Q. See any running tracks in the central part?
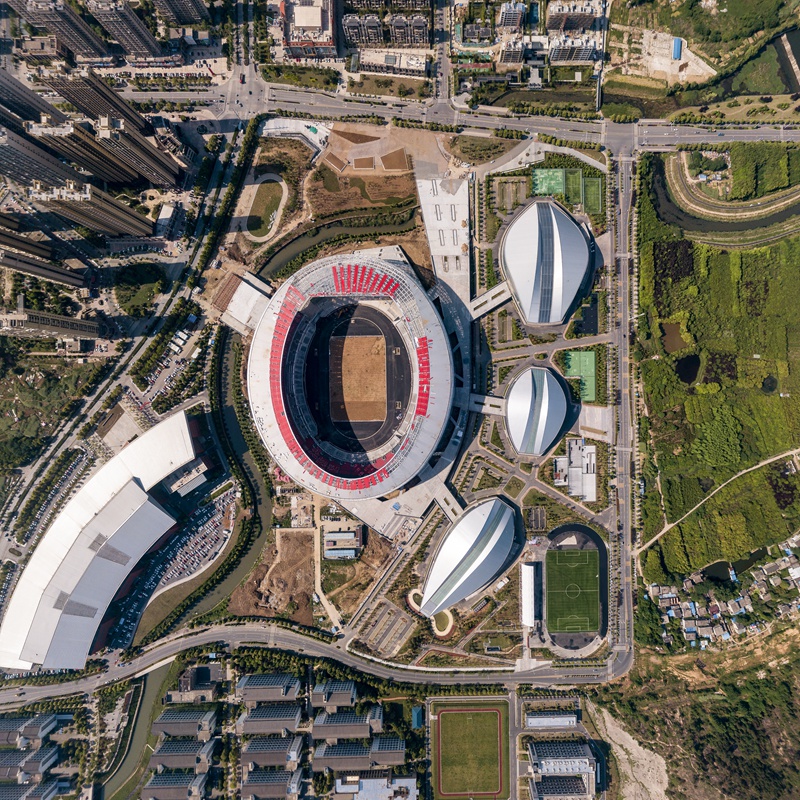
Yes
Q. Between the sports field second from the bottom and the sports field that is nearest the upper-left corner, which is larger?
the sports field second from the bottom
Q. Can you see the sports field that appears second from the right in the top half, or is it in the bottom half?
bottom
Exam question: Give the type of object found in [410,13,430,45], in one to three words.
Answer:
building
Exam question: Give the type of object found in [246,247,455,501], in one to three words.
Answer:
stadium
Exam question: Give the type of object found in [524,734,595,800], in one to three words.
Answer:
building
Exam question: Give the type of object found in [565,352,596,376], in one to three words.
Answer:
sports court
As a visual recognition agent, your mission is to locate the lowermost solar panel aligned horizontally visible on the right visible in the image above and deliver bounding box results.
[537,777,584,796]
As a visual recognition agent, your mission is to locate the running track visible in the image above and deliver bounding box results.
[305,303,408,453]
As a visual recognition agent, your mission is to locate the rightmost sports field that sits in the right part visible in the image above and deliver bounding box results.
[536,523,609,661]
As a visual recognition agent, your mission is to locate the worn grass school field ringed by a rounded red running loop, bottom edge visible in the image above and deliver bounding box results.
[430,701,511,800]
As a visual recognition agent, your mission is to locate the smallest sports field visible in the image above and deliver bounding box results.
[331,336,386,401]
